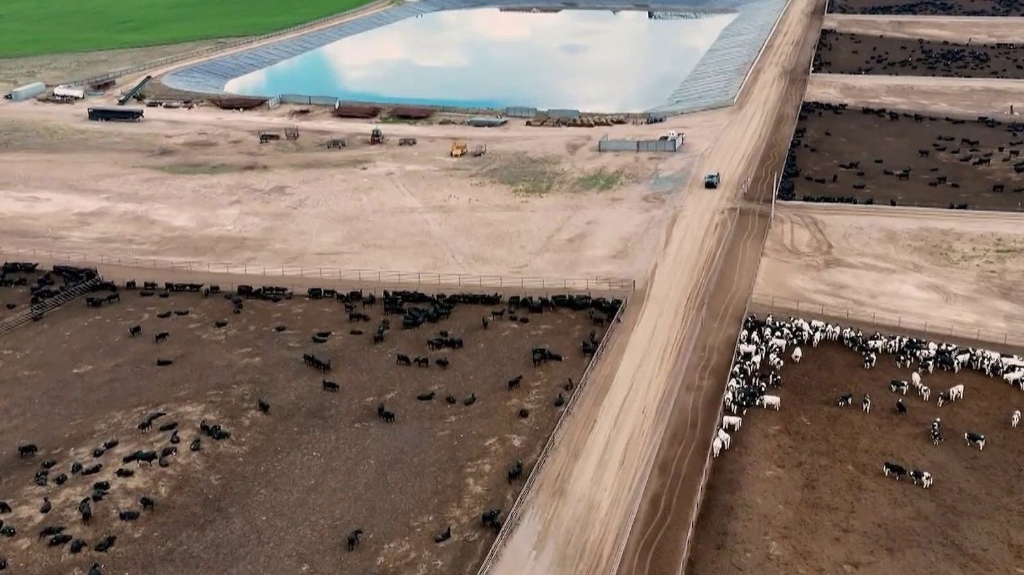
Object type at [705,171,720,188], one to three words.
vehicle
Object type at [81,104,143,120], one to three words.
trailer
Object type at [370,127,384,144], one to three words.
work vehicle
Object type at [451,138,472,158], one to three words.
vehicle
